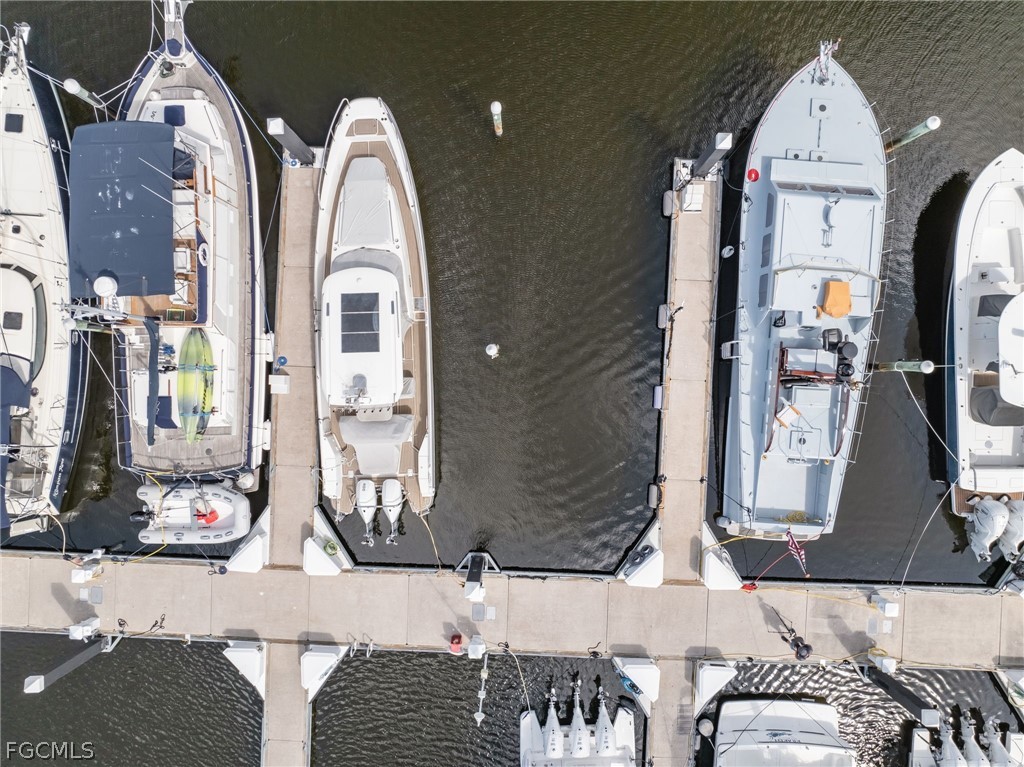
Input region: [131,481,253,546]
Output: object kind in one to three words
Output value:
boat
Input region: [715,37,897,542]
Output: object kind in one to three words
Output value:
boat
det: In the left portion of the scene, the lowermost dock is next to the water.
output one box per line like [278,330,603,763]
[259,646,315,767]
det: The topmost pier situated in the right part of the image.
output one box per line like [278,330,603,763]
[653,162,724,582]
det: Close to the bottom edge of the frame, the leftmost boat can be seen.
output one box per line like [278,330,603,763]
[519,673,637,767]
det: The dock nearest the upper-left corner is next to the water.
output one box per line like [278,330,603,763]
[269,162,325,565]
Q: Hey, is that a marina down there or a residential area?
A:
marina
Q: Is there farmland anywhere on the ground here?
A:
No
